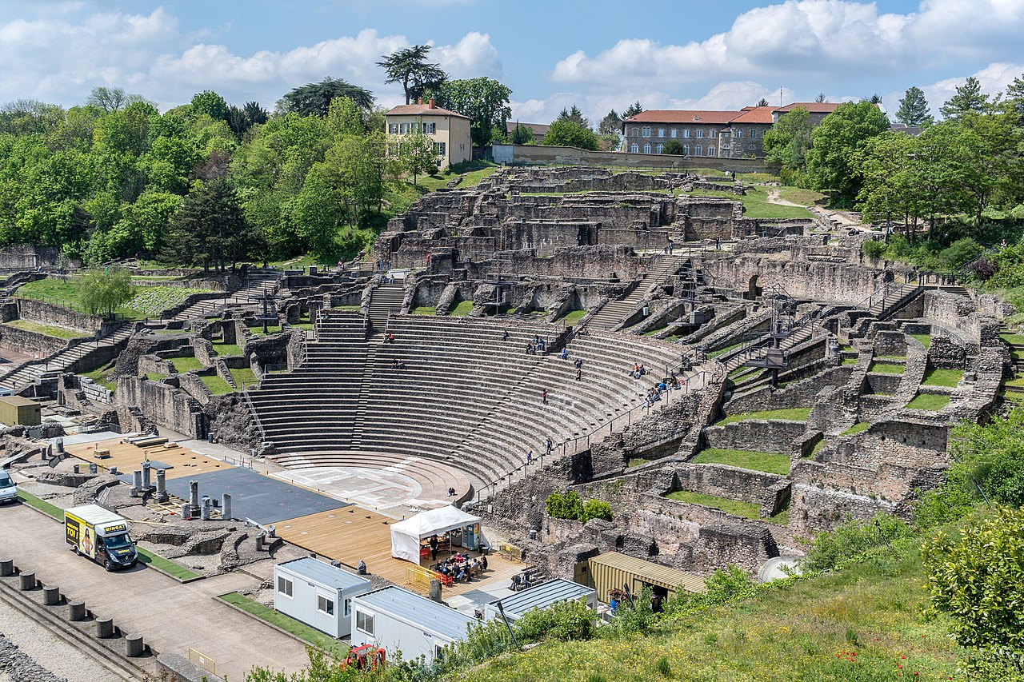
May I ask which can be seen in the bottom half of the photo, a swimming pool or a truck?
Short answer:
truck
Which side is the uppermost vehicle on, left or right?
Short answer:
left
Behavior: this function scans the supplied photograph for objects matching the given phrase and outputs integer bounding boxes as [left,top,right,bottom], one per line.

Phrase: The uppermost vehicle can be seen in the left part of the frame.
[0,472,21,508]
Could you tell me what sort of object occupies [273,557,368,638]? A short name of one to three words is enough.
building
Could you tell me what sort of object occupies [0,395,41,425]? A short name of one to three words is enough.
building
